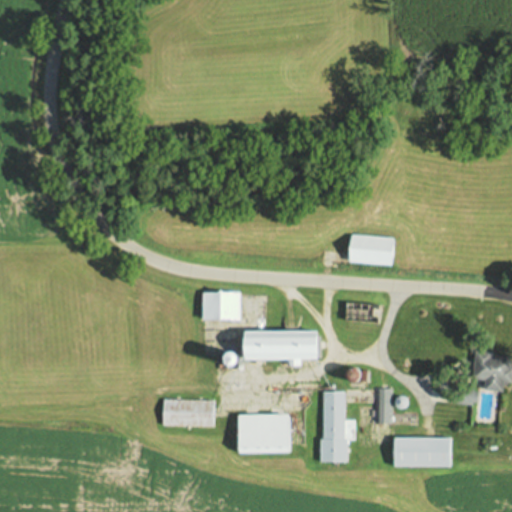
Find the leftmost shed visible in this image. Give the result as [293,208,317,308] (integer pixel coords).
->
[162,396,216,430]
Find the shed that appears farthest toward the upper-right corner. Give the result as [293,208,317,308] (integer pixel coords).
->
[350,235,395,266]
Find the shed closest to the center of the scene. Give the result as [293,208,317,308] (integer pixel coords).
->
[202,291,242,322]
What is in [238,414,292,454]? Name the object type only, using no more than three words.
shed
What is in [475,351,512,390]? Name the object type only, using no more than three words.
house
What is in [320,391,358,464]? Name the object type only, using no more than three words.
building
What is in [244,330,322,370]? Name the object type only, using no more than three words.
building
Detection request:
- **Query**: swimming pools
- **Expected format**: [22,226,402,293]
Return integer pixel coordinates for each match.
[476,388,498,424]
